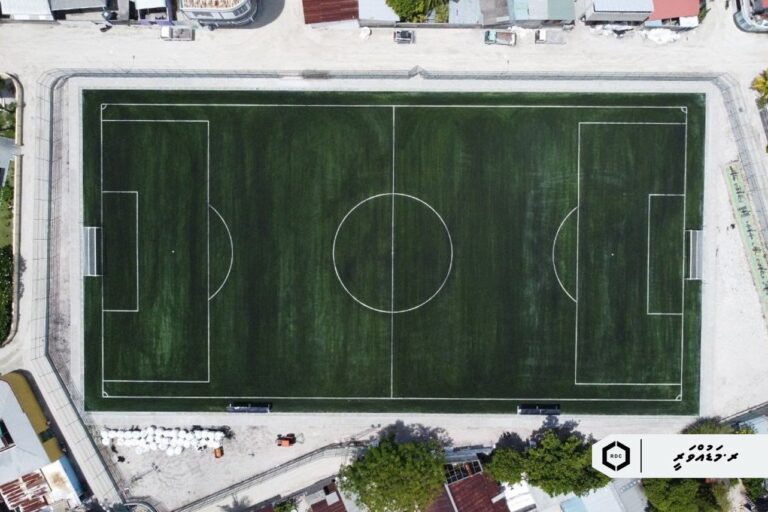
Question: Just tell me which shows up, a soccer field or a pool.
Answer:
soccer field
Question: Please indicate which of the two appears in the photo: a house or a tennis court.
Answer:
house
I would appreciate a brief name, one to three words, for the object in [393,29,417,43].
vehicle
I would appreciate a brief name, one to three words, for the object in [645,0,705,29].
house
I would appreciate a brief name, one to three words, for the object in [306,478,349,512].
house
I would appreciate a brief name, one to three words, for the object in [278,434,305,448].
work vehicle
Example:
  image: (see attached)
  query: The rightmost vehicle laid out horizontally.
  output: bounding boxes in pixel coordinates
[534,28,568,44]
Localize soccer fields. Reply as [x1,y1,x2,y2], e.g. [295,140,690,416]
[81,88,707,418]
